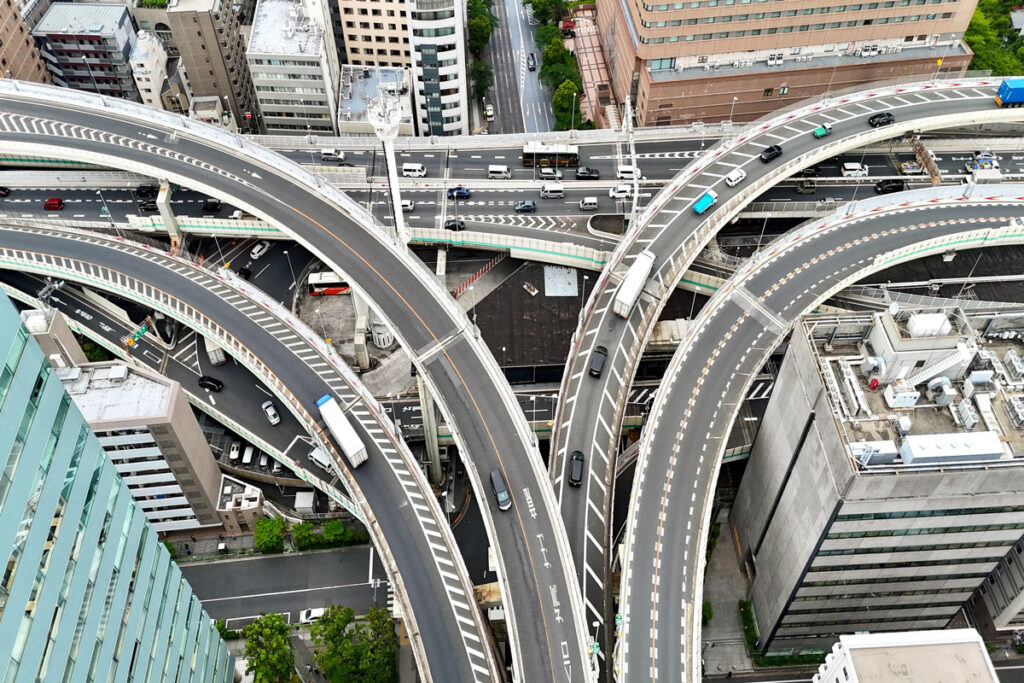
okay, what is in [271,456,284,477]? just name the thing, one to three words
vehicle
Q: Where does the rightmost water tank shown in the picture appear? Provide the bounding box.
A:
[905,294,971,337]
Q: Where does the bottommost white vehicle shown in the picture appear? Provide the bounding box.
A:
[296,608,329,624]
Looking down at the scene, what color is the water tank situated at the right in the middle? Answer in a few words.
white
